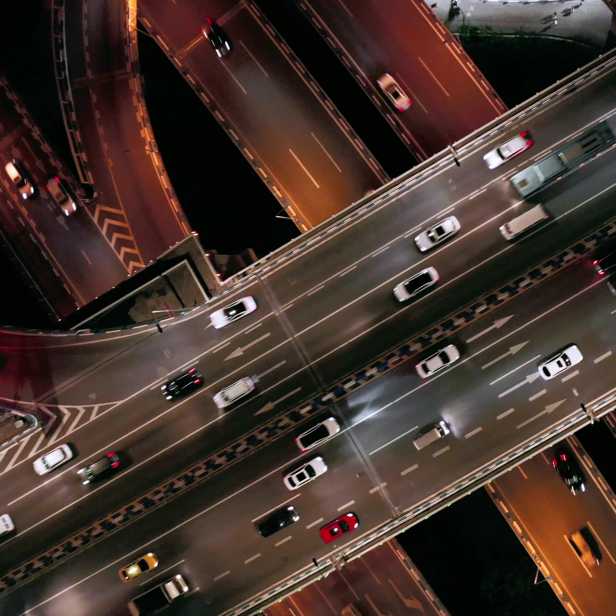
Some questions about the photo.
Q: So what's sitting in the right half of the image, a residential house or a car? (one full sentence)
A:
There is a car in the right half of the image.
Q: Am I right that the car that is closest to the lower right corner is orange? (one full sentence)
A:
Yes, the car that is closest to the lower right corner is orange.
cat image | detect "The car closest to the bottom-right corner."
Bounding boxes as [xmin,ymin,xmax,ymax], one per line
[571,527,600,565]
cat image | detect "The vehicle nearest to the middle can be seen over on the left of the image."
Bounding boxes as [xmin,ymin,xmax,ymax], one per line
[213,294,258,328]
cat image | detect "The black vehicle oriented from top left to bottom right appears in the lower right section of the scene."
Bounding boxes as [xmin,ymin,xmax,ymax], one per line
[554,454,583,493]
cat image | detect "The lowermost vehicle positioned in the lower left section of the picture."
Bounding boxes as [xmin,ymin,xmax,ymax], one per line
[126,571,190,616]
